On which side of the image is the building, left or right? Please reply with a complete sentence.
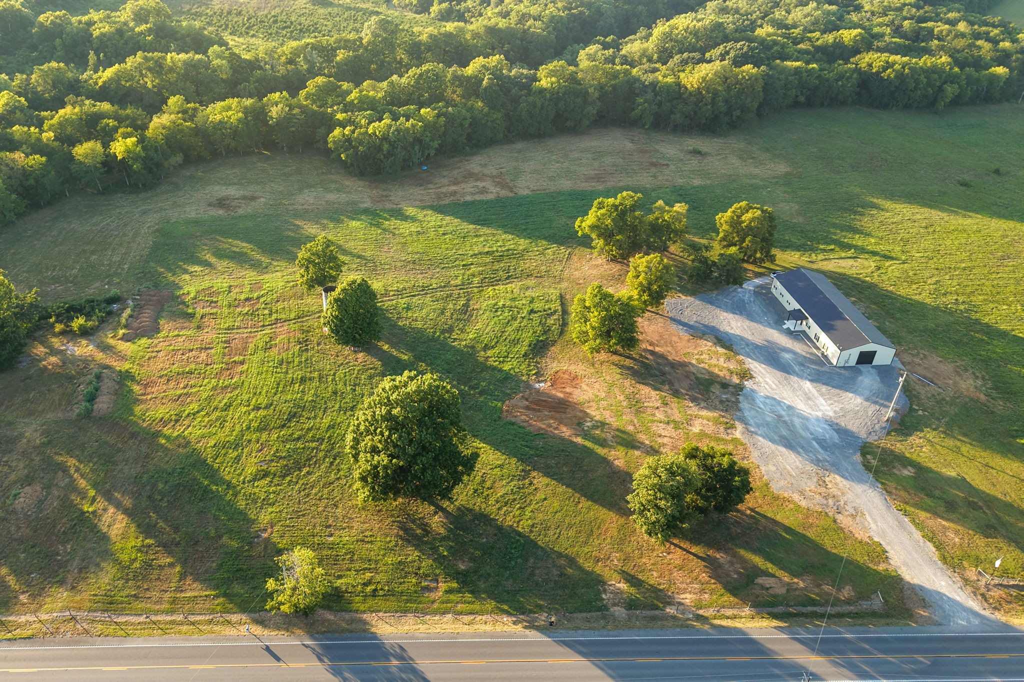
The building is on the right side of the image.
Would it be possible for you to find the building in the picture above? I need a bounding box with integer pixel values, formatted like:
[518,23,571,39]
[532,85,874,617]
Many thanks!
[772,268,897,369]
